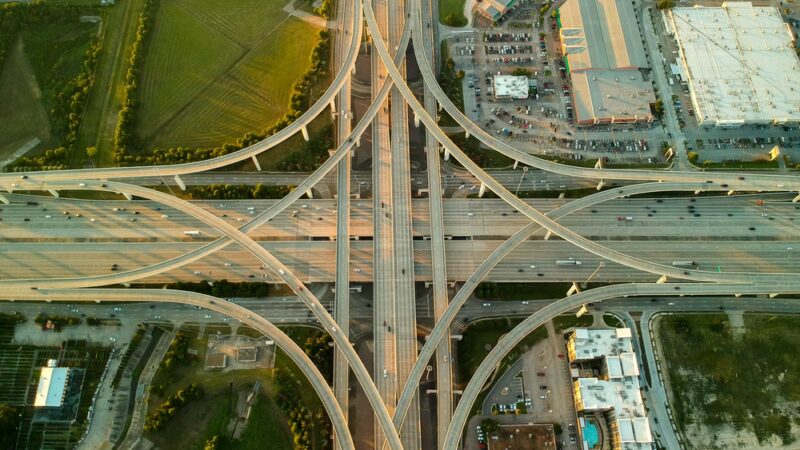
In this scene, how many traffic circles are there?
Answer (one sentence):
There are no traffic circles in this view.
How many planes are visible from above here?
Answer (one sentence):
The picture shows no planes.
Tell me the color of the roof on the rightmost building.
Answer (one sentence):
The roof over the rightmost building appears white.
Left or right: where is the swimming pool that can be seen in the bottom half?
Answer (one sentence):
It is on the right.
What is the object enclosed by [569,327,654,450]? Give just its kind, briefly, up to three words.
building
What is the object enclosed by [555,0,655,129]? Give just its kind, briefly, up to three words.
building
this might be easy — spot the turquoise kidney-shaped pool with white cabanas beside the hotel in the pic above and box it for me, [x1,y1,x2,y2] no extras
[576,413,612,450]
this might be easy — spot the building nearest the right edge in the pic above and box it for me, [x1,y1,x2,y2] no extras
[659,2,800,133]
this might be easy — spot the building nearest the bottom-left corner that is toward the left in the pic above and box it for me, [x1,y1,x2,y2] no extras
[34,366,74,408]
